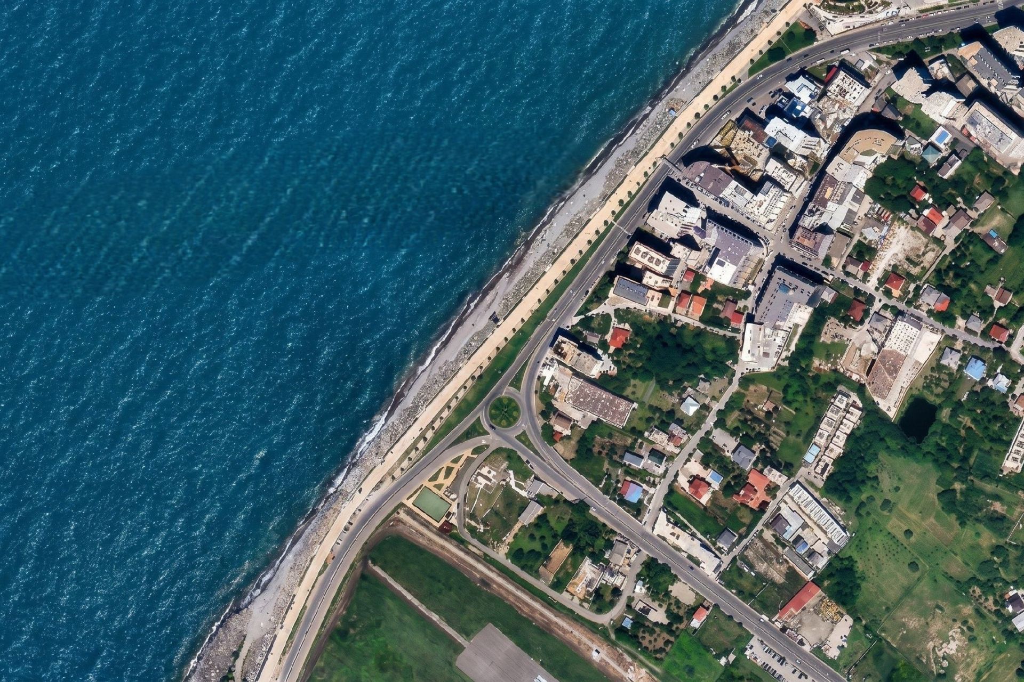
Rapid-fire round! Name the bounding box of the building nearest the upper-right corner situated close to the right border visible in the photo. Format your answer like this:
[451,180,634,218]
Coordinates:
[993,26,1024,61]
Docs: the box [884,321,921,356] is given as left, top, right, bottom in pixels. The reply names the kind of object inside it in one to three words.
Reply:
building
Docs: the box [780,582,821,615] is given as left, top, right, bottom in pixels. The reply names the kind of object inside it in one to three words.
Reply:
house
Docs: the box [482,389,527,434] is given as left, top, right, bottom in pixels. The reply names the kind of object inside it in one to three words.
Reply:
roundabout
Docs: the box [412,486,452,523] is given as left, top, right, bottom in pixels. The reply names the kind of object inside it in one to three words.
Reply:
sports court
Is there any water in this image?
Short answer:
Yes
